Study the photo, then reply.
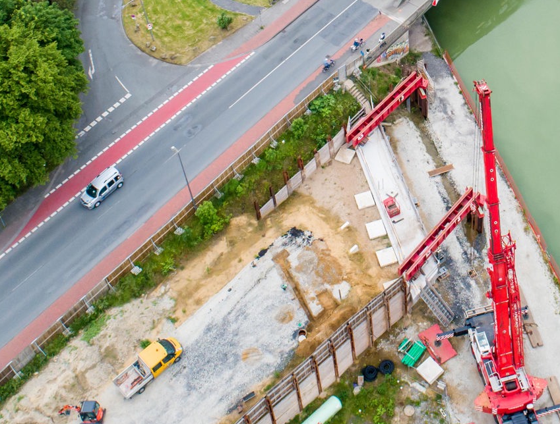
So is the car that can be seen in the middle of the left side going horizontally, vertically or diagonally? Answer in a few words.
diagonally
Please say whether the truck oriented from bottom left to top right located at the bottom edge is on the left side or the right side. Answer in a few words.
left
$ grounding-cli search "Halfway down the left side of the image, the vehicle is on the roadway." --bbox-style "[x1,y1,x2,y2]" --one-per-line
[75,167,126,213]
